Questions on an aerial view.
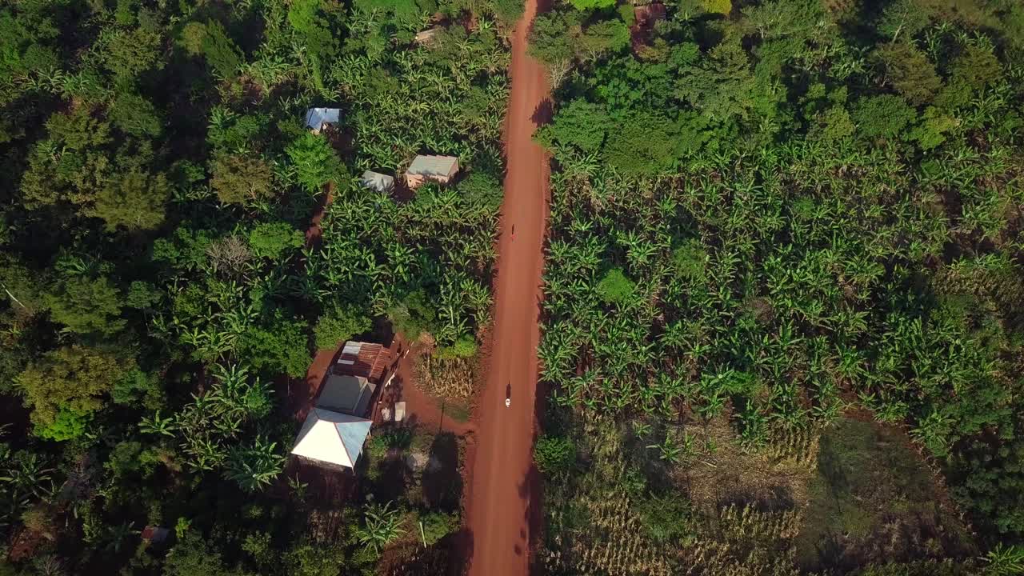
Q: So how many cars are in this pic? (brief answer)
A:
none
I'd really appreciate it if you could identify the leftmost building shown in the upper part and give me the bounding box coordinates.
[306,108,340,136]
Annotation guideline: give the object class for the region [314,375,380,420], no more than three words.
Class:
house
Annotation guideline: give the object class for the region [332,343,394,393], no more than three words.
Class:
house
